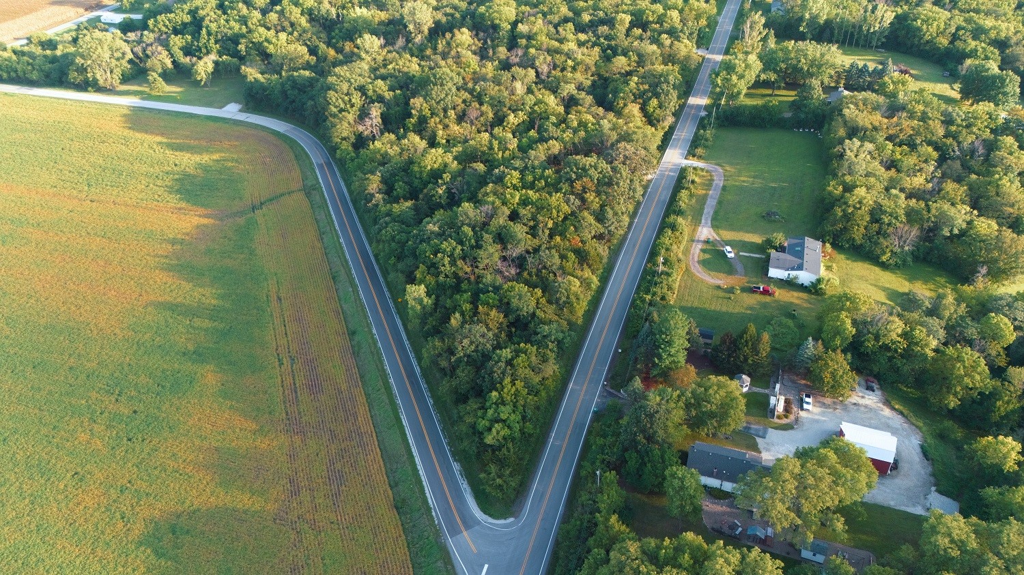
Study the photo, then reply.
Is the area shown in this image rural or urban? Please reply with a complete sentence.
This place is rural.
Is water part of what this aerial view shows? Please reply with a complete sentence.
No, no water is visible.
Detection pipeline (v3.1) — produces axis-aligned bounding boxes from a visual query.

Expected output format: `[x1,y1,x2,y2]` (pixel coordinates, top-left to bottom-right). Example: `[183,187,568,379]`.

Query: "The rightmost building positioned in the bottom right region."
[840,424,896,476]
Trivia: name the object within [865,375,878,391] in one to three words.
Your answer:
vehicle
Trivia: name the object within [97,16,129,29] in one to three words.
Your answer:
barn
